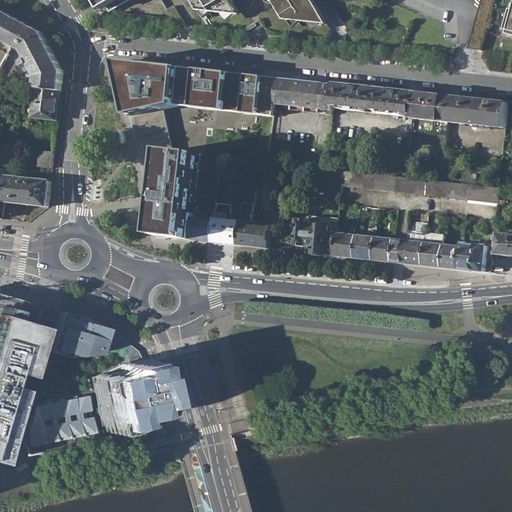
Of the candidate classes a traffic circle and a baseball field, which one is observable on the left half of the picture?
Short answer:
traffic circle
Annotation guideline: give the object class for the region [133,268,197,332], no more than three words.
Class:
roundabout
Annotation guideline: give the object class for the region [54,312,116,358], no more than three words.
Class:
building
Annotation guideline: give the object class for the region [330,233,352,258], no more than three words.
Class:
house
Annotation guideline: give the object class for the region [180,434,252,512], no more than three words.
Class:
bridge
